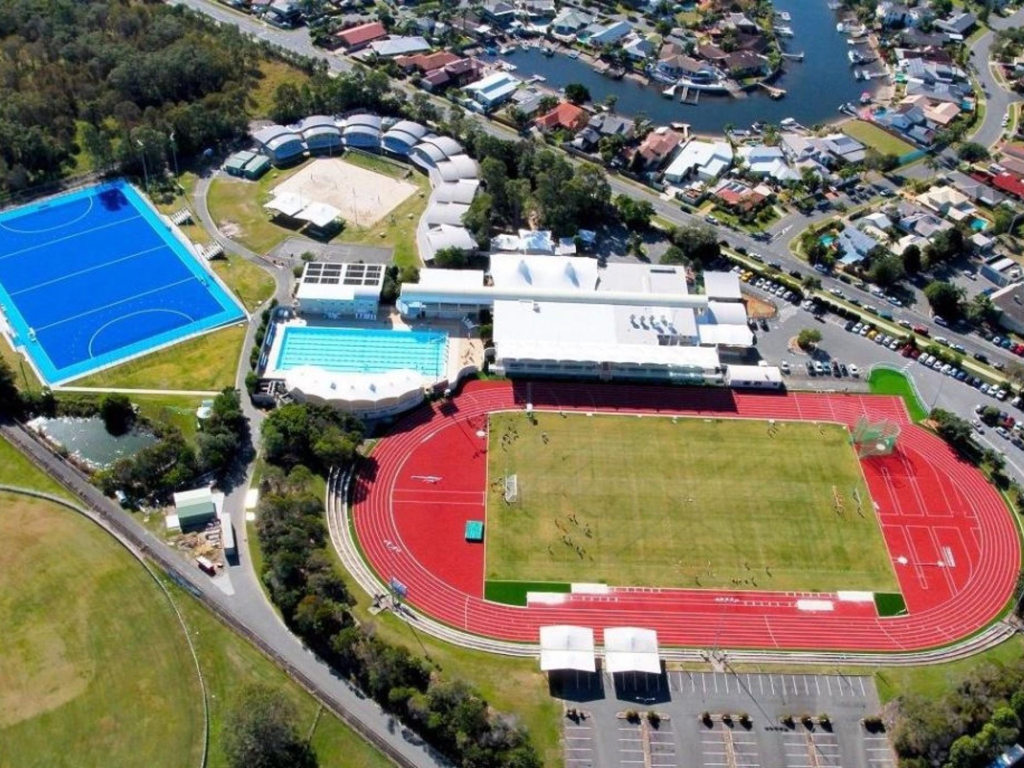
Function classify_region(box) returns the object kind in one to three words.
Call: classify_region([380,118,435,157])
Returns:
building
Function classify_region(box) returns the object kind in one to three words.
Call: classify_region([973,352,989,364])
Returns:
vehicle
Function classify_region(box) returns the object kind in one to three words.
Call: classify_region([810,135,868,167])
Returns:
house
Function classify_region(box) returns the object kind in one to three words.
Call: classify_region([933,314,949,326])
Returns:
vehicle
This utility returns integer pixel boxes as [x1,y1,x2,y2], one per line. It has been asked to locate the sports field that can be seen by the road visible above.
[0,190,226,369]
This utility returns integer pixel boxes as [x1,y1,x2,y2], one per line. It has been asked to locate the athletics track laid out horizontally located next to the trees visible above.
[353,388,1022,651]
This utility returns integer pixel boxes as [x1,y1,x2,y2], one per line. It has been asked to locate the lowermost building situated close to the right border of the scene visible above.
[995,311,1024,360]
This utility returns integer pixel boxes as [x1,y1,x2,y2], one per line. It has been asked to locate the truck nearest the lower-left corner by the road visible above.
[196,551,219,575]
